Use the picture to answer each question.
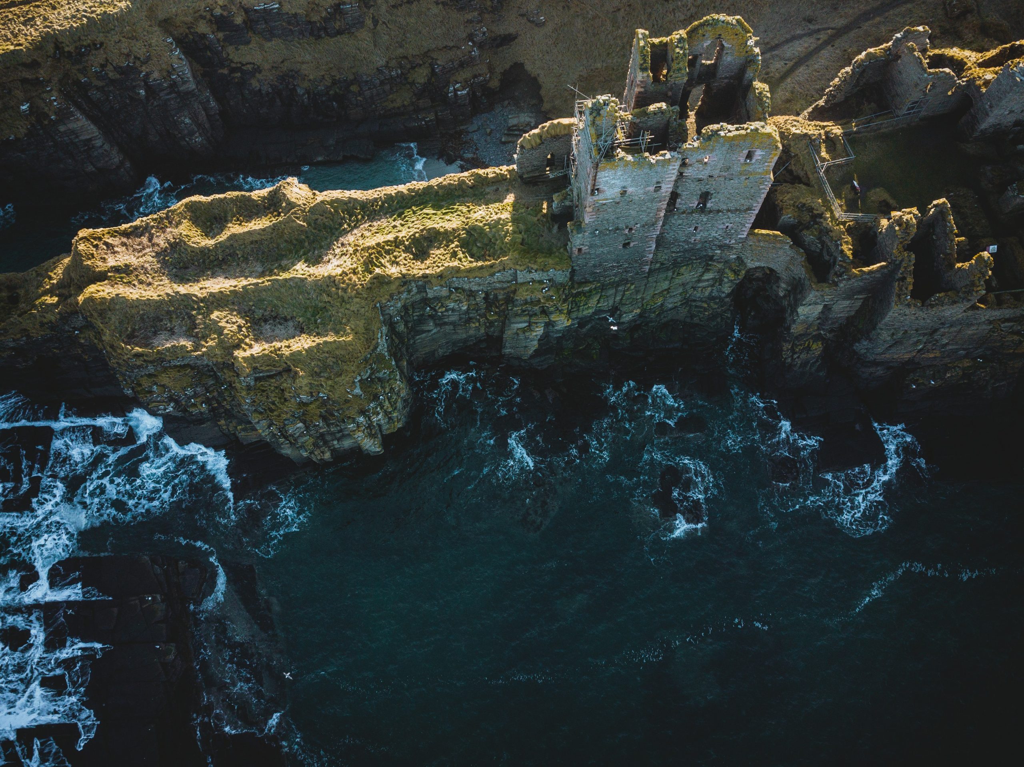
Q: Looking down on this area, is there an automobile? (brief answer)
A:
No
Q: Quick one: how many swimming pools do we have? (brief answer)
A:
0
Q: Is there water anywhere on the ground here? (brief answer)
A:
Yes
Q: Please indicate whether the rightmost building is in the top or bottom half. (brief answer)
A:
top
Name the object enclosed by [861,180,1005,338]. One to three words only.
building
